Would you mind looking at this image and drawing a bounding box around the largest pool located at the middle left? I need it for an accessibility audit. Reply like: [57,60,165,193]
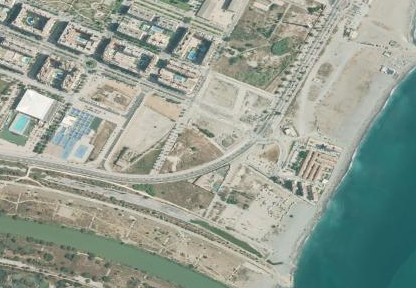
[9,113,33,135]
